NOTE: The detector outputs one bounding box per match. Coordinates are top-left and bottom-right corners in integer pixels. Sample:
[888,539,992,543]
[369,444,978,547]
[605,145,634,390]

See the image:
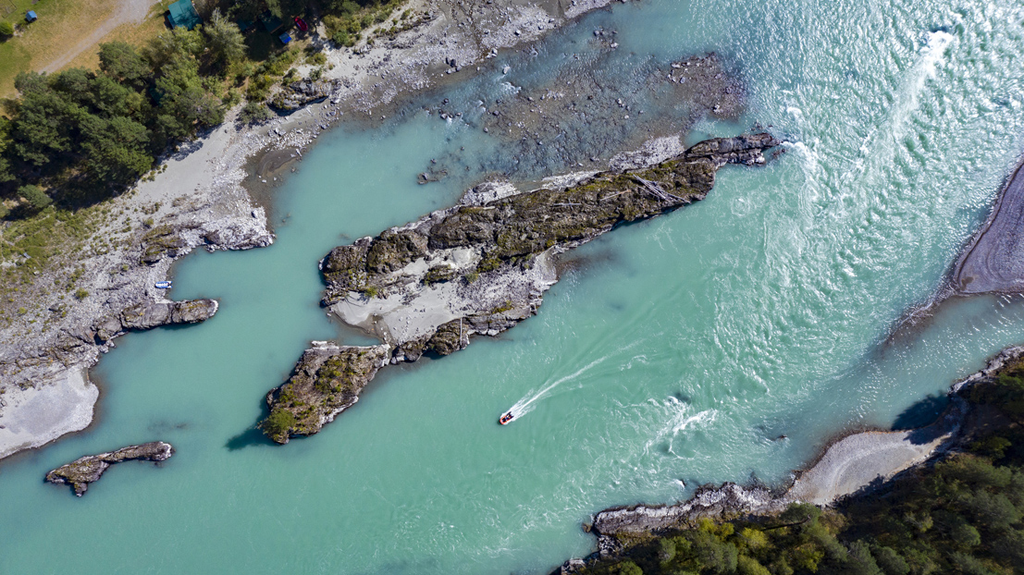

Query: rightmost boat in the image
[500,410,516,425]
